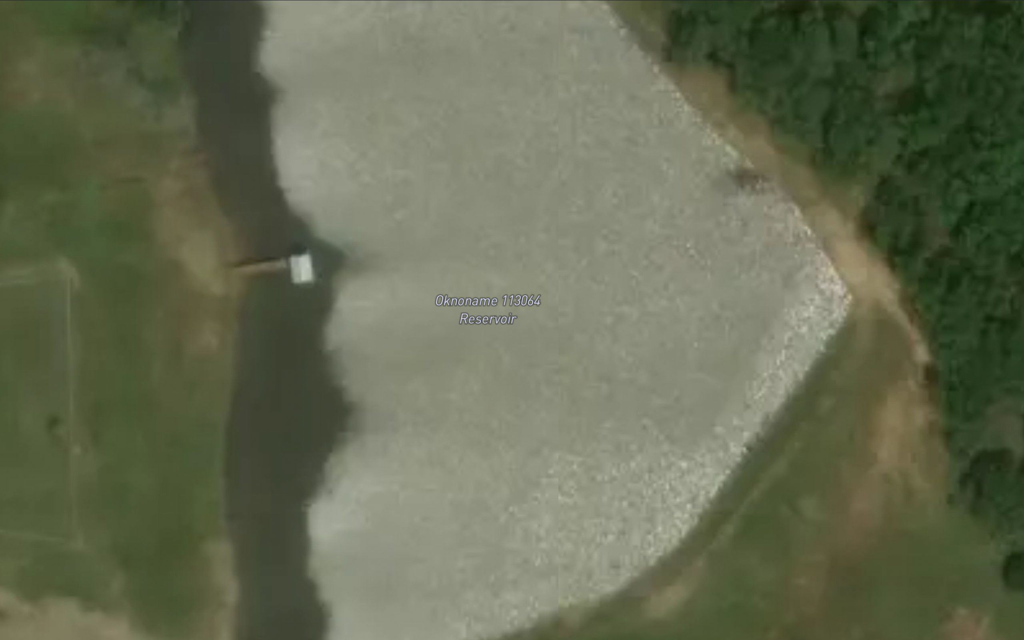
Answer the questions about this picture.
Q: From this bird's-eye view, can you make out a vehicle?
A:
No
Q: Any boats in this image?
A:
No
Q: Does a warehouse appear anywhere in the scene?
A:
No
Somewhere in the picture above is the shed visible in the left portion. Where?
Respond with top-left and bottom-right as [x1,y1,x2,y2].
[291,253,311,282]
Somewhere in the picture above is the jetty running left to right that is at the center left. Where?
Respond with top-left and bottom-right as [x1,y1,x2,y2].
[235,259,287,274]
